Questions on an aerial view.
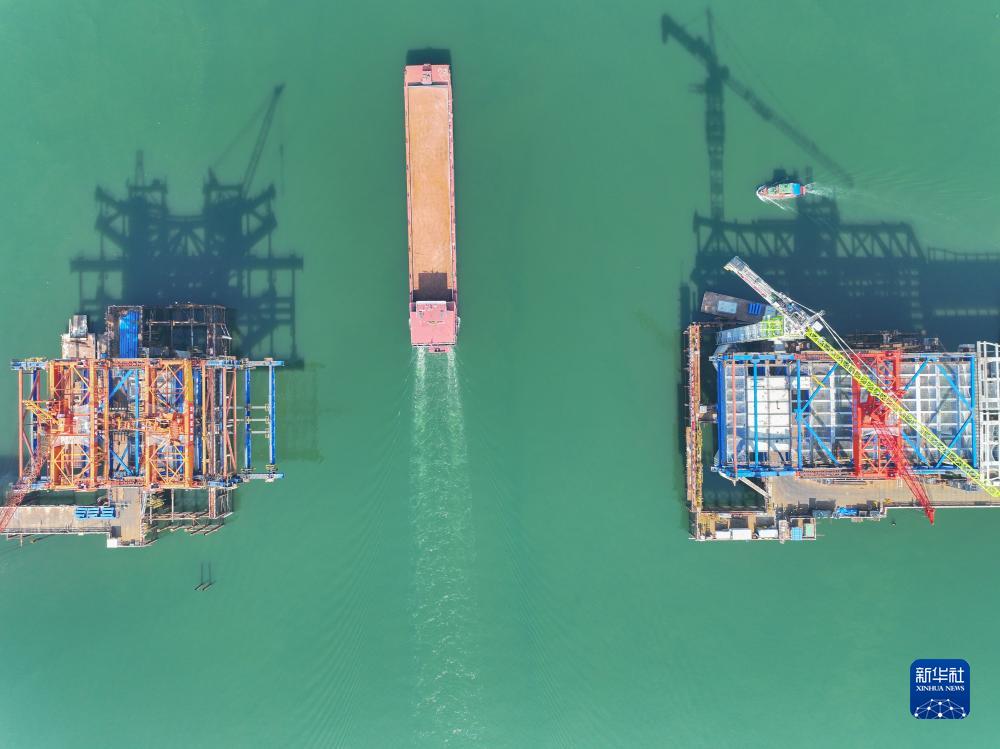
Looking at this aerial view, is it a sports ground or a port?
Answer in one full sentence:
This image shows a port.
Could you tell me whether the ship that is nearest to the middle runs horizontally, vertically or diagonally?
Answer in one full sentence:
What the image shows is the ship that is nearest to the middle lying vertically.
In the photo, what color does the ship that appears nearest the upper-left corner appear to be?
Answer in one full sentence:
The ship that appears nearest the upper-left corner looks pink in the image.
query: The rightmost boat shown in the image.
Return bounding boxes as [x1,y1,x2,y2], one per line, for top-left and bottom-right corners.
[757,184,806,200]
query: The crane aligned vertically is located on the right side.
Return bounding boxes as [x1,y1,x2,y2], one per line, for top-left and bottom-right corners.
[845,352,934,521]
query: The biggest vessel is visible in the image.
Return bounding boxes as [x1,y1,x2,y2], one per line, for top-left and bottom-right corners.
[404,66,461,354]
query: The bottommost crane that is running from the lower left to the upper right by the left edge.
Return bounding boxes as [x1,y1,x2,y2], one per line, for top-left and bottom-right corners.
[0,437,49,520]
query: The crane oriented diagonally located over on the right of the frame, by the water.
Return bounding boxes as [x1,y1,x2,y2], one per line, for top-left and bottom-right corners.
[706,253,1000,502]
